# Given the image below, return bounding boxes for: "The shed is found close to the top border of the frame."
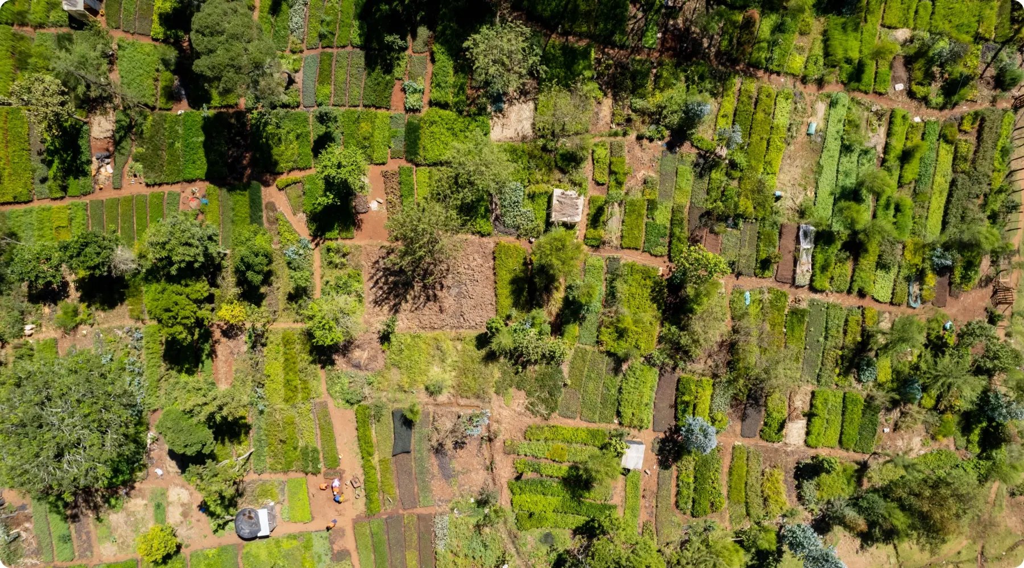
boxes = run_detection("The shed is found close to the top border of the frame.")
[62,0,113,29]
